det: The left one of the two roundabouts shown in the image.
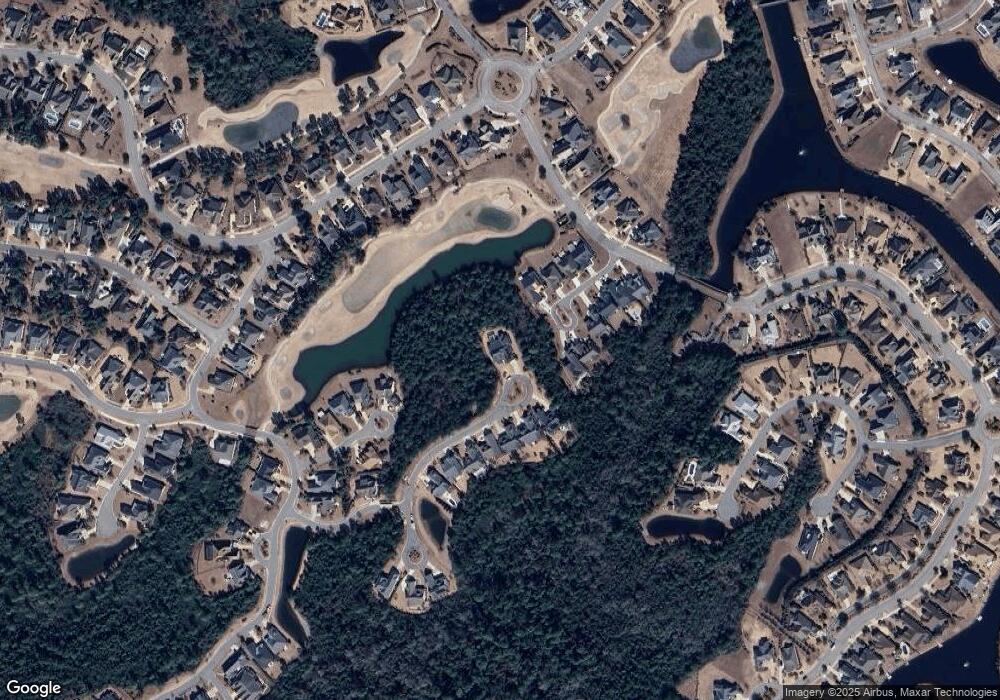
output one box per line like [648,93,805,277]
[479,56,535,112]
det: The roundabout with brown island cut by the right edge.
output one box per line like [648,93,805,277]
[976,408,1000,445]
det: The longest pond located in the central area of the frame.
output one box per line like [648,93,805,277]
[288,219,555,417]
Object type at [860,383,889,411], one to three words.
house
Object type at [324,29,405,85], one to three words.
pond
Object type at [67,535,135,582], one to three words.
pond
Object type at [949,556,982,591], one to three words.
house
